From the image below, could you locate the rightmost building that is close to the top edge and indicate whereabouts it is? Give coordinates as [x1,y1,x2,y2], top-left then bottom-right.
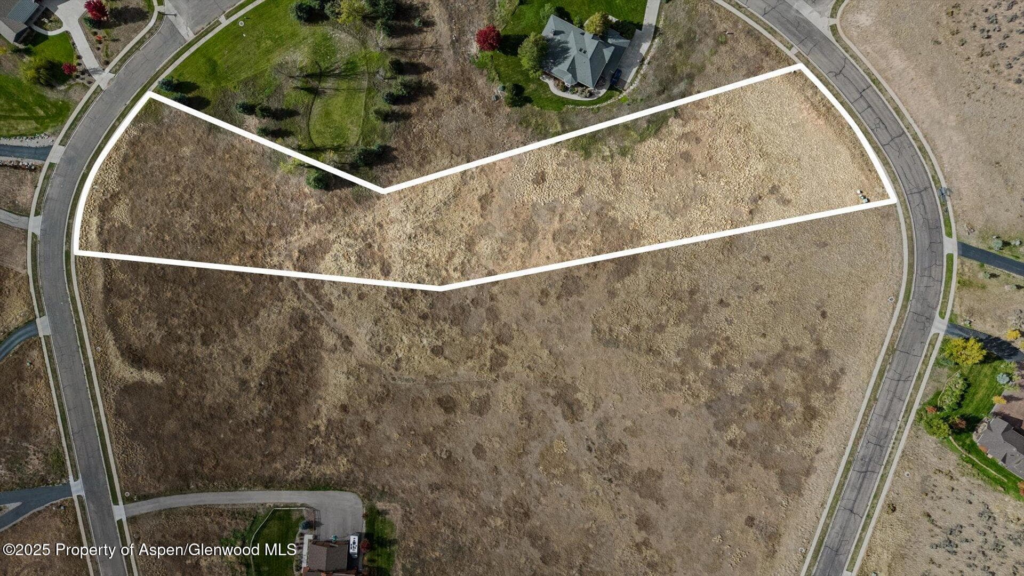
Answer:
[529,16,630,91]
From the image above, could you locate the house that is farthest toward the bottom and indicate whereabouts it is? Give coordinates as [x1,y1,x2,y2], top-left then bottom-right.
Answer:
[304,537,359,576]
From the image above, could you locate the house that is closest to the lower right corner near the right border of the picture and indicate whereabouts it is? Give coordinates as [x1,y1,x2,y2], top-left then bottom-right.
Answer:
[971,417,1024,480]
